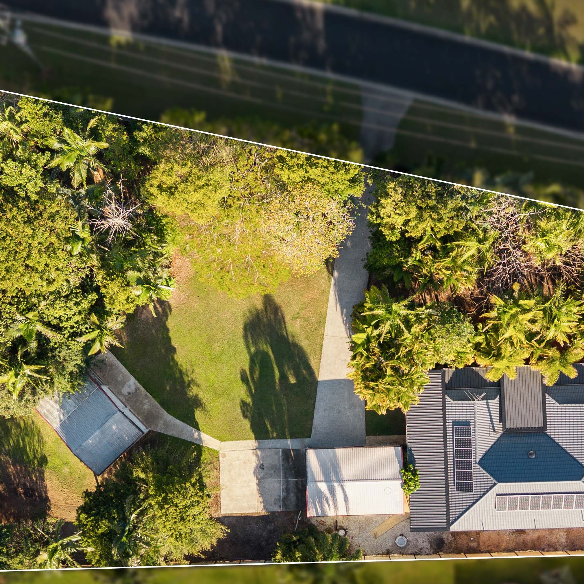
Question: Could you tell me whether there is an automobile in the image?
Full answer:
No, no automobile is visible in the scene.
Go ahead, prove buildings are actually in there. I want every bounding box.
[36,365,149,474]
[406,363,584,534]
[306,444,405,517]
